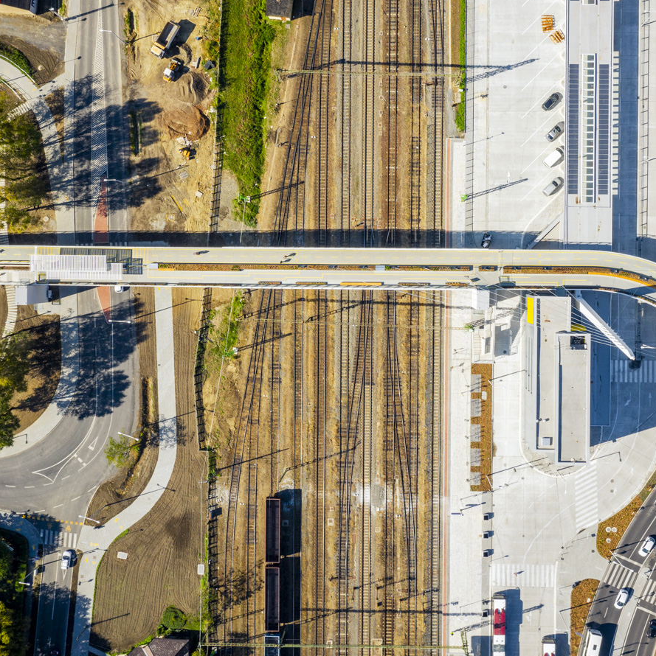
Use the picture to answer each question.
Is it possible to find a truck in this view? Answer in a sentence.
Yes, there's a truck here.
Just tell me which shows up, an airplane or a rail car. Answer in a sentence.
Of the two, only a rail car appears.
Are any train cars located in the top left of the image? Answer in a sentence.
No, there is no train car in the top left of the image.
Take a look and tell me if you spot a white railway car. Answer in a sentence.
No, I can see no white railway car in this picture.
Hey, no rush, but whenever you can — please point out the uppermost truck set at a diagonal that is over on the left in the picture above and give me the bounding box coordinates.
[148,15,182,60]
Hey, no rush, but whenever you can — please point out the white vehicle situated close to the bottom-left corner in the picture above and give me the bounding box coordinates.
[61,548,74,572]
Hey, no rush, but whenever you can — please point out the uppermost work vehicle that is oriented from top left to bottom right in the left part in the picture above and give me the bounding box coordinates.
[178,146,198,165]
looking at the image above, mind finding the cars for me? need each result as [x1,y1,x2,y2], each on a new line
[543,175,565,199]
[480,229,493,249]
[639,533,656,558]
[542,90,563,113]
[542,145,565,171]
[114,288,125,297]
[544,120,565,144]
[613,586,631,611]
[61,548,74,572]
[647,618,656,641]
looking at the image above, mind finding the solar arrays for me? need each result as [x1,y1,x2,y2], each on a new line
[600,63,610,194]
[571,63,580,194]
